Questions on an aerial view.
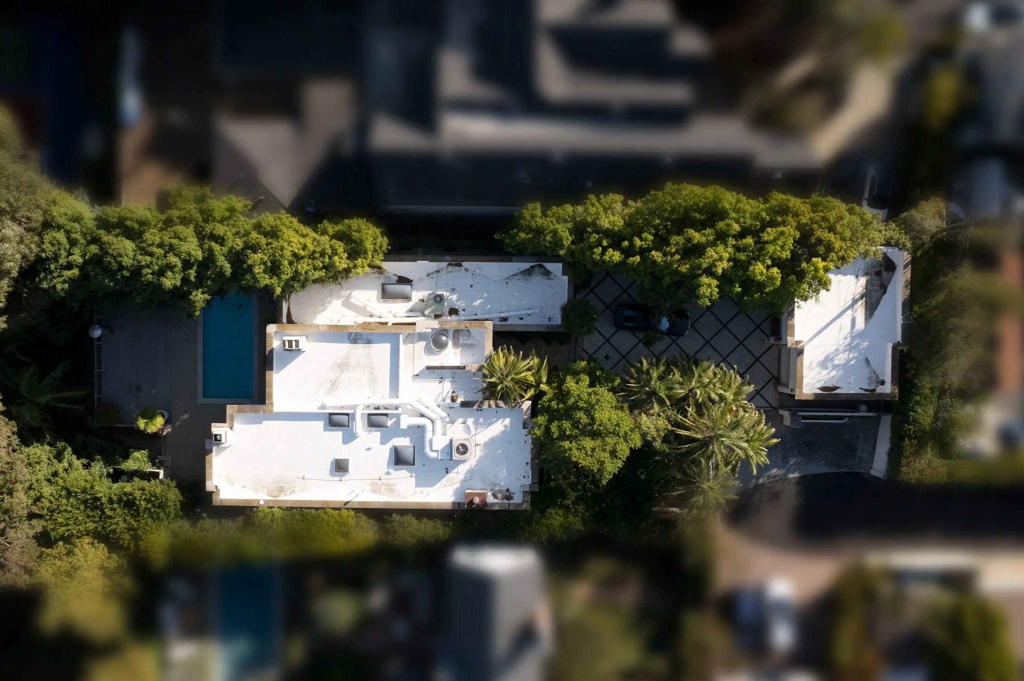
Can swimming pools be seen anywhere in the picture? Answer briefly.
Yes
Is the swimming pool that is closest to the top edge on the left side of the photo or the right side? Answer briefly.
left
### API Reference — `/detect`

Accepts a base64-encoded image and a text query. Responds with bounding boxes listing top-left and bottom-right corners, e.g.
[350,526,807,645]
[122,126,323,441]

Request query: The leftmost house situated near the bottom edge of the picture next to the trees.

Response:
[440,530,551,681]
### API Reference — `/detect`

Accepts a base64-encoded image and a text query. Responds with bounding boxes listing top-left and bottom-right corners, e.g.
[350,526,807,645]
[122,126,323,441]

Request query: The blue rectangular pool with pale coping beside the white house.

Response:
[198,279,260,404]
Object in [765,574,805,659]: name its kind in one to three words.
car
